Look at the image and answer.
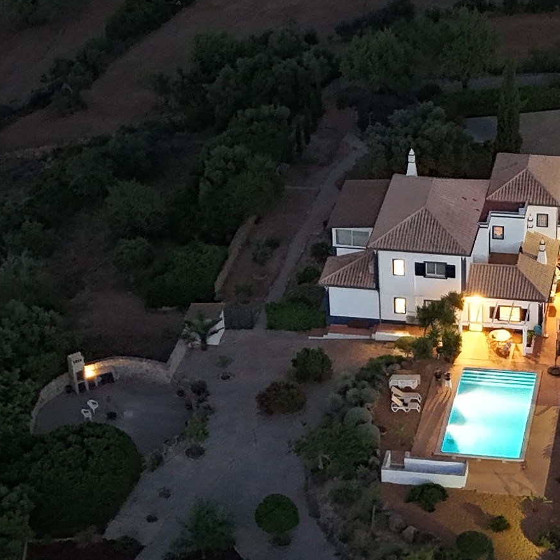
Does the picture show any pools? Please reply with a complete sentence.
Yes, a pool is visible in the scene.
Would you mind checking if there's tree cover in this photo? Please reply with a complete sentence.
Yes, some tree cover is visible.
